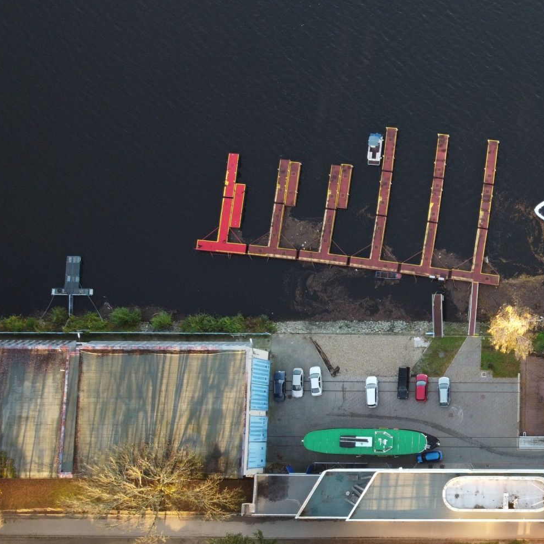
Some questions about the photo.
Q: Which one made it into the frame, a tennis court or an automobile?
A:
automobile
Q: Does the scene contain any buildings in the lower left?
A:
Yes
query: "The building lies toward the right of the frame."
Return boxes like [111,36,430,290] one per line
[242,467,544,521]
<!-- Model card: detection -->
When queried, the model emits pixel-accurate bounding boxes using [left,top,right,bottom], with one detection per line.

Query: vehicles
[436,375,451,407]
[290,368,305,398]
[363,375,379,407]
[394,366,412,400]
[417,450,444,464]
[308,366,324,397]
[415,373,429,403]
[271,371,287,401]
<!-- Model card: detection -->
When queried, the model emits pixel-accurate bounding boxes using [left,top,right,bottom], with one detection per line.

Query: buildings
[0,341,285,477]
[242,467,544,521]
